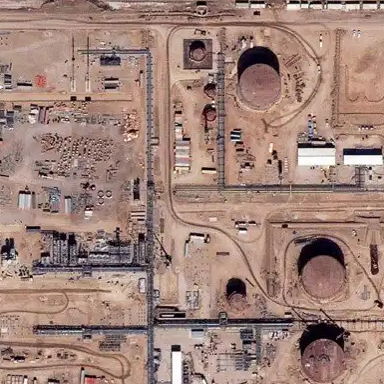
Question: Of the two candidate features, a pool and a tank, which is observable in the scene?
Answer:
tank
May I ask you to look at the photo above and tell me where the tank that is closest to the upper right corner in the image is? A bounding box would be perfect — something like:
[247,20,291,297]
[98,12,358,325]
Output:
[236,64,283,111]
